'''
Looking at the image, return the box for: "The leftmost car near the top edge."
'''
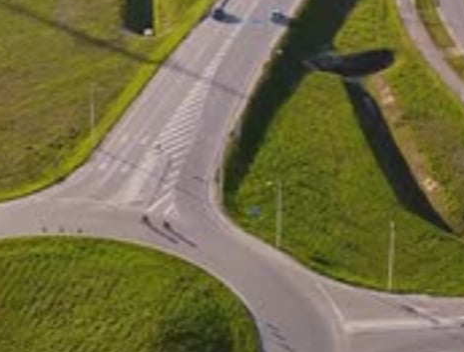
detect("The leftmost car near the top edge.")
[212,7,227,19]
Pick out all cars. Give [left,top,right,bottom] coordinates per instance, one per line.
[271,9,285,20]
[212,7,227,19]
